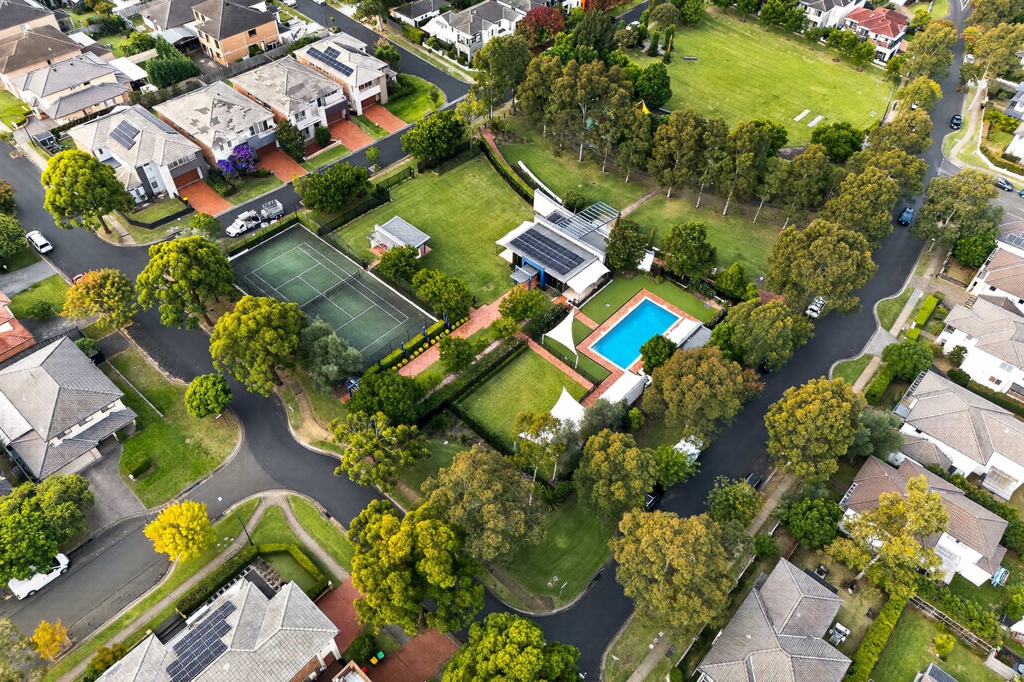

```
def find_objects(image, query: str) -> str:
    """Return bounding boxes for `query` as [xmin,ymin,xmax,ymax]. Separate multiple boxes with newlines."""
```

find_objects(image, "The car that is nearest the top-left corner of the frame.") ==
[27,228,52,249]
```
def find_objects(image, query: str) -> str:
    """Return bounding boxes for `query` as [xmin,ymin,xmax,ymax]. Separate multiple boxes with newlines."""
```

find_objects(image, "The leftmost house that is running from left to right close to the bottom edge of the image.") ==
[92,579,343,682]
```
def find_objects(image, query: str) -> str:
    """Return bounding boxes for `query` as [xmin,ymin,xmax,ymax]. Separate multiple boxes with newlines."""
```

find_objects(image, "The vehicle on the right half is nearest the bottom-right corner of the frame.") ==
[744,465,770,490]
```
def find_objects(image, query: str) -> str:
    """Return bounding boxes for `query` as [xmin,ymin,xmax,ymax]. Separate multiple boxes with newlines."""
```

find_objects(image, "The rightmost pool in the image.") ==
[593,299,680,371]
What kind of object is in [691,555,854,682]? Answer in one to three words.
house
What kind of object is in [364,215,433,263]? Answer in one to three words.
building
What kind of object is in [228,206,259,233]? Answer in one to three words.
truck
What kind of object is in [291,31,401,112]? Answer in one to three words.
house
